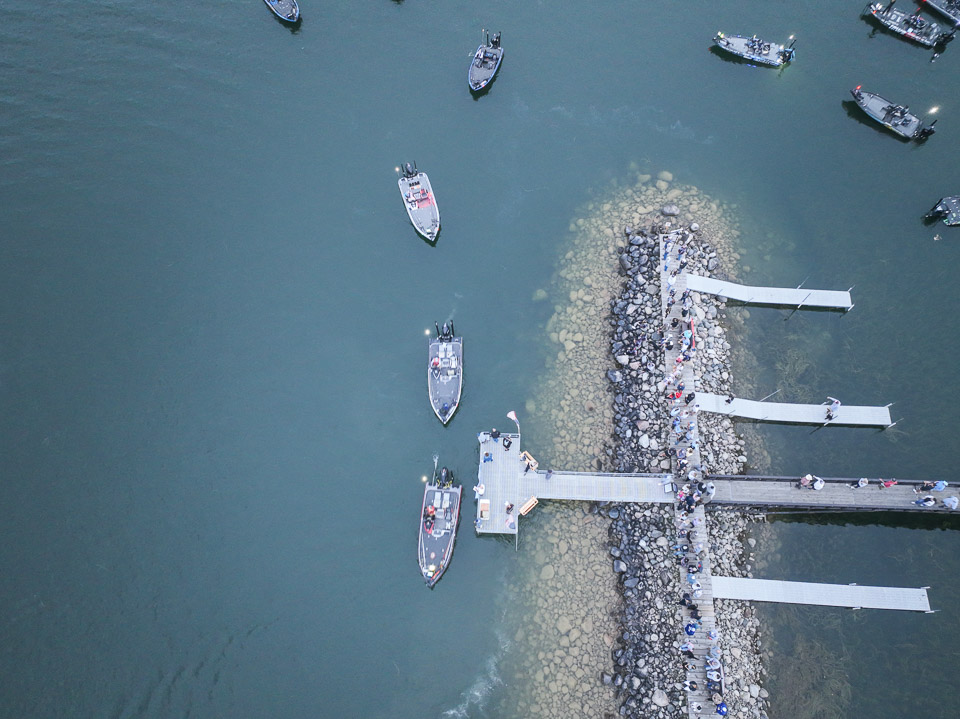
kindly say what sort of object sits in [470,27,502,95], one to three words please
boat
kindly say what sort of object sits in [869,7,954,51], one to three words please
boat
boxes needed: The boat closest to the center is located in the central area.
[428,322,462,424]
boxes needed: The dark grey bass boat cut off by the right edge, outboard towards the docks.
[926,191,960,224]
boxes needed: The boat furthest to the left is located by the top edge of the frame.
[263,0,300,25]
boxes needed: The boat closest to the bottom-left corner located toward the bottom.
[420,469,460,587]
